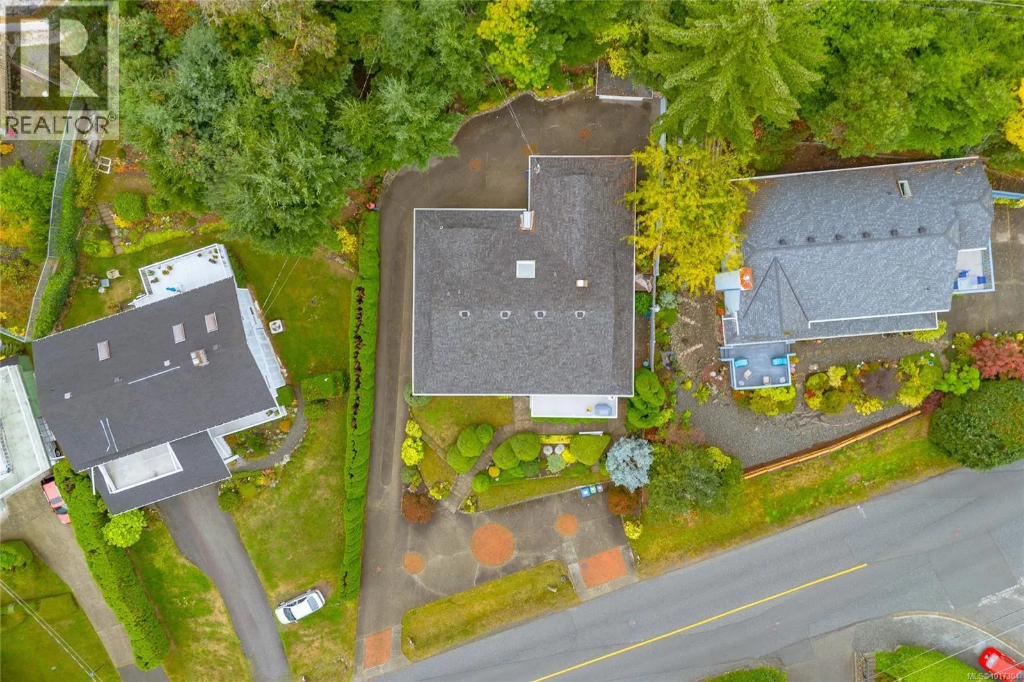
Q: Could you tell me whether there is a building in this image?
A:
Yes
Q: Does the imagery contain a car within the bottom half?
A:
Yes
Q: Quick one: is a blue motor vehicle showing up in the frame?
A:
No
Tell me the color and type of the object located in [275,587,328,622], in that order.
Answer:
white car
